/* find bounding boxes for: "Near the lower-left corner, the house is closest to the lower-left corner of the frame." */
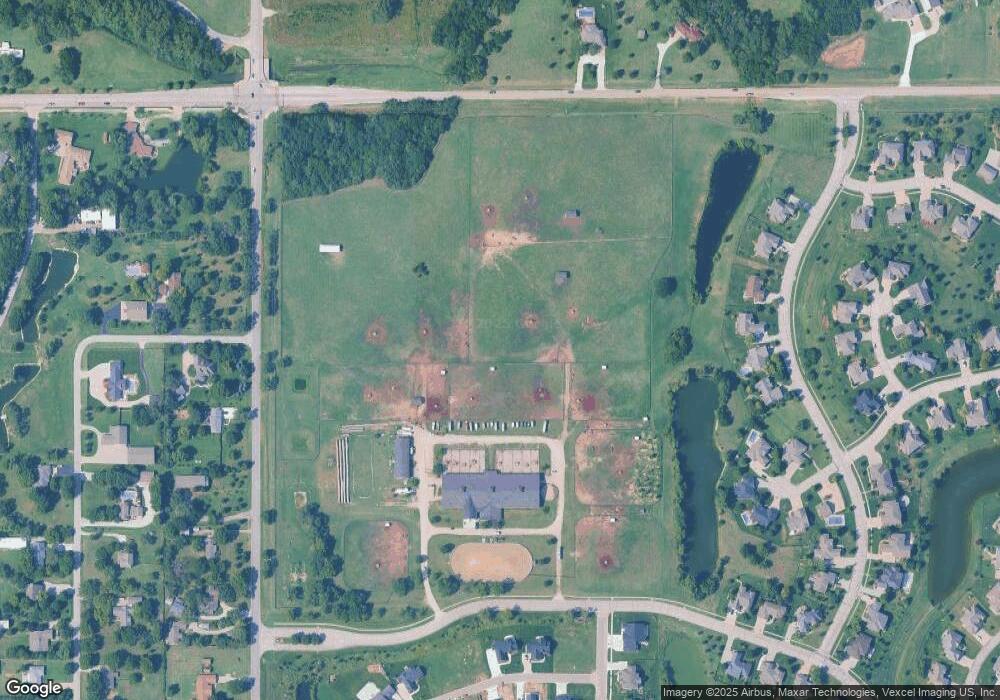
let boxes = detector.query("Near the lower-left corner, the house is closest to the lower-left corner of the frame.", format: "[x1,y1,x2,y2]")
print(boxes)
[21,666,44,685]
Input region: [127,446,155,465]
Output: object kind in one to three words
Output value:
barn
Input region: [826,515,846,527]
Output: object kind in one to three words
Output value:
swimming pool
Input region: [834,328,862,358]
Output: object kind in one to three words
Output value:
house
